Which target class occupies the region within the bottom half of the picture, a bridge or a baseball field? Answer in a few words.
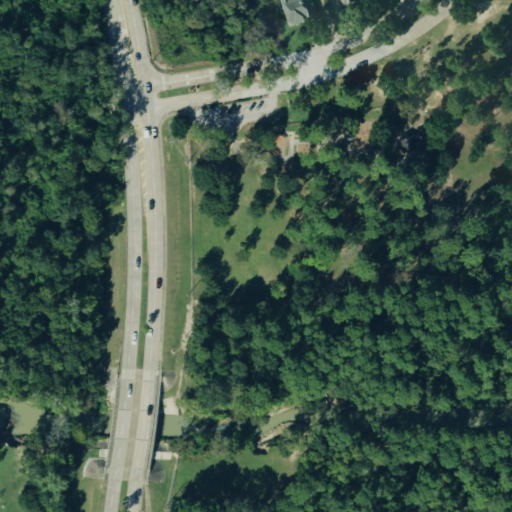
bridge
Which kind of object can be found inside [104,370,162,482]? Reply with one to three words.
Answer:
bridge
